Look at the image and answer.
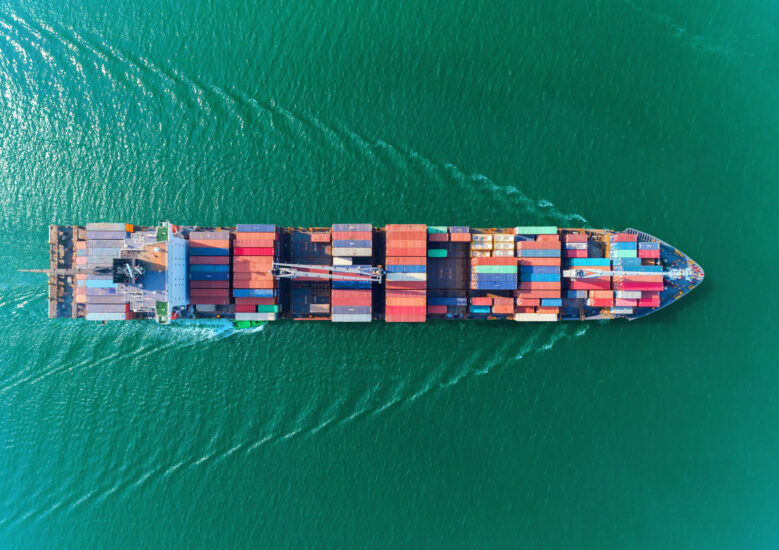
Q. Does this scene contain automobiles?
No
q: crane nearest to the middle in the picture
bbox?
[272,262,386,283]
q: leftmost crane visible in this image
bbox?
[14,265,111,277]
